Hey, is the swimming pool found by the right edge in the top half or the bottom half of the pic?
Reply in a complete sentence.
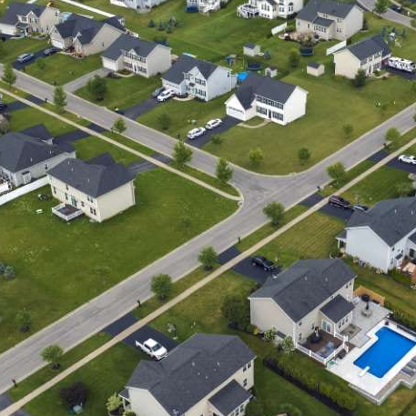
Seen from above, the swimming pool found by the right edge lies in the bottom half of the view.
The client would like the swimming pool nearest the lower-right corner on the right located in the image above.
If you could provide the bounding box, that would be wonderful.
[325,318,416,394]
